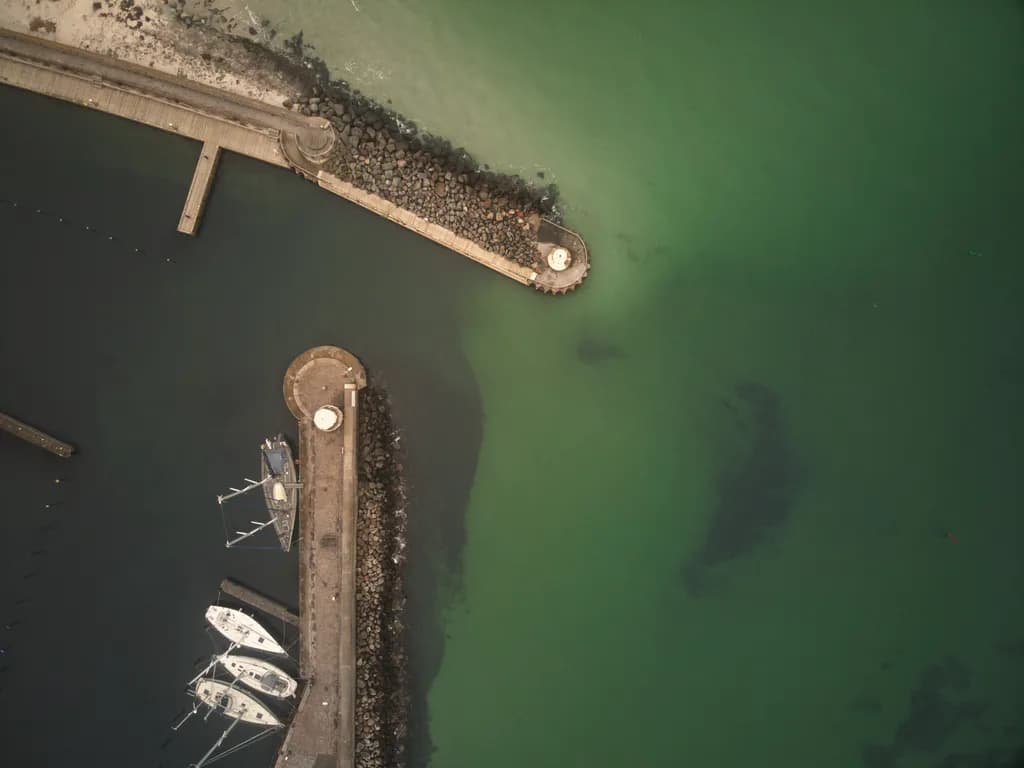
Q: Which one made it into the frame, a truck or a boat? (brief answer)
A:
boat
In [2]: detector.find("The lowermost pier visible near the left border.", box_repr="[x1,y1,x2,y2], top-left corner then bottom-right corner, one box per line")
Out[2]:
[0,412,75,457]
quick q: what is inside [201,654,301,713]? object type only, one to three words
boat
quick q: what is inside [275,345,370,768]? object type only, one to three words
pier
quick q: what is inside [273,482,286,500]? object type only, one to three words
boat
